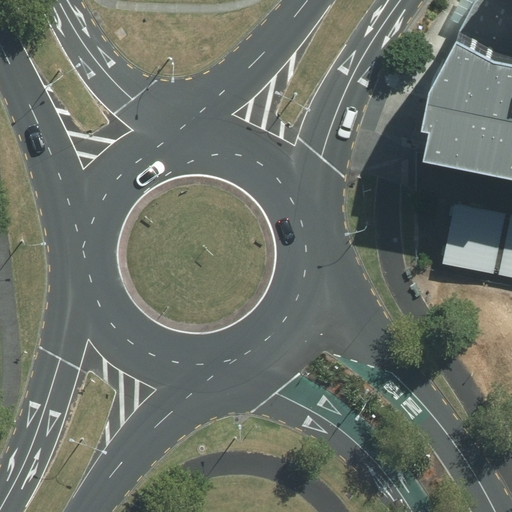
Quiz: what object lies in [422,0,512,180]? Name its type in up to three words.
building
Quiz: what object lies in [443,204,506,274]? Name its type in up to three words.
shed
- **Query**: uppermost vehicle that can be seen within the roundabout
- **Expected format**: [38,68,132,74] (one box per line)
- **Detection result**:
[136,162,165,185]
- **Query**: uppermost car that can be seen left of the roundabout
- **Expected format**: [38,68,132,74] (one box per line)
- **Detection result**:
[28,125,44,156]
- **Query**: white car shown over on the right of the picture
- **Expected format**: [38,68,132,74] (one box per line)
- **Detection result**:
[339,106,357,138]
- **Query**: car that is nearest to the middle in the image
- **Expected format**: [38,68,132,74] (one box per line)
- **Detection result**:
[278,218,294,245]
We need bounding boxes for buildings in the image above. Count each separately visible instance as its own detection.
[422,0,512,180]
[443,204,506,274]
[497,216,512,278]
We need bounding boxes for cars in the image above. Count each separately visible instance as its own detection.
[339,106,357,138]
[136,162,165,185]
[28,125,44,156]
[278,218,294,245]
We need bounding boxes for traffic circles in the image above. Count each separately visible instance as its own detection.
[48,116,335,392]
